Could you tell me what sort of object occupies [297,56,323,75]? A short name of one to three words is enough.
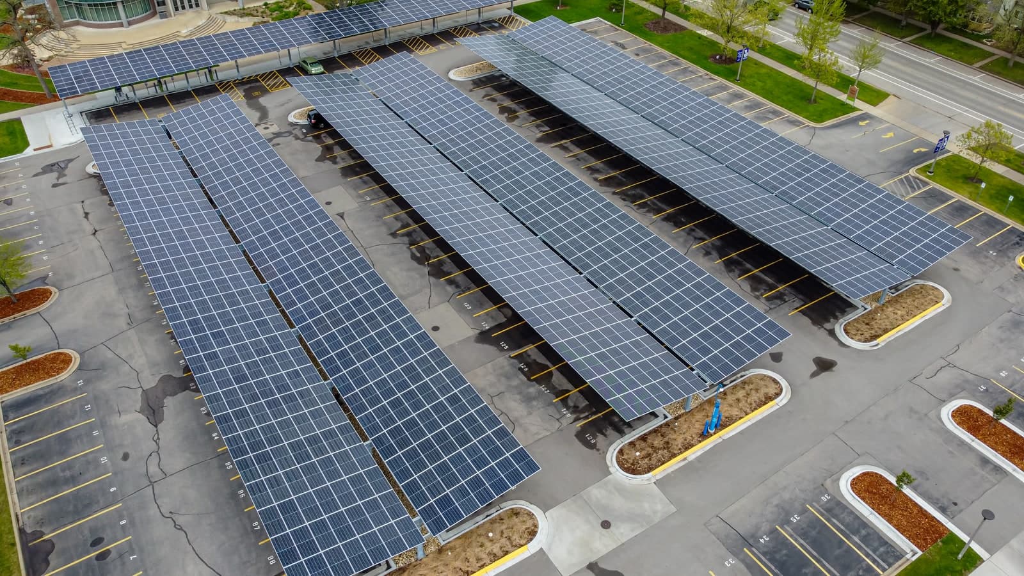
car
